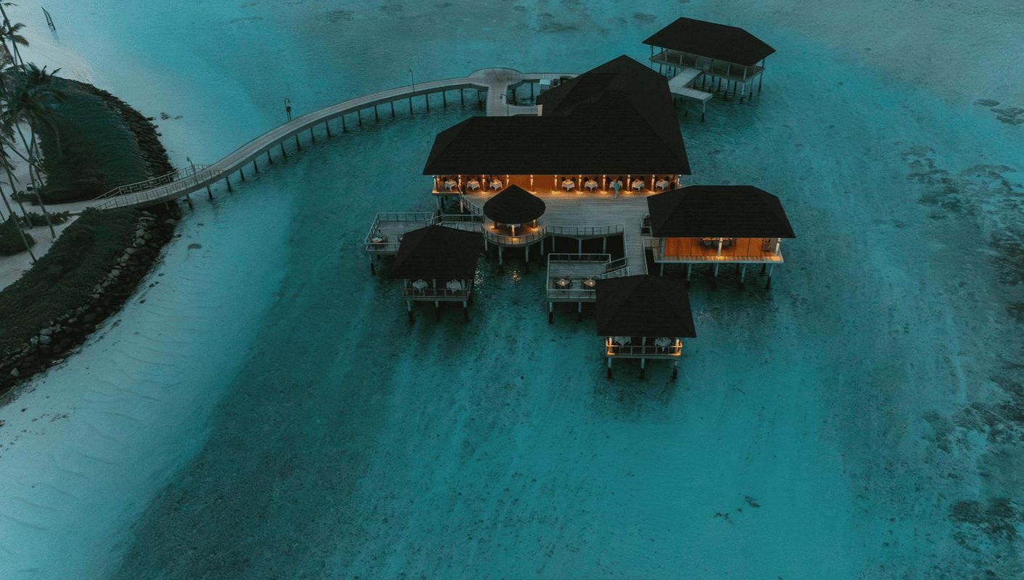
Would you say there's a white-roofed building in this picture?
No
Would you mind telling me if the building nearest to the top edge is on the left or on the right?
right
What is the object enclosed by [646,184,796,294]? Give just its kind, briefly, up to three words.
building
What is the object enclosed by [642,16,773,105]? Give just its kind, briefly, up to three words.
building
